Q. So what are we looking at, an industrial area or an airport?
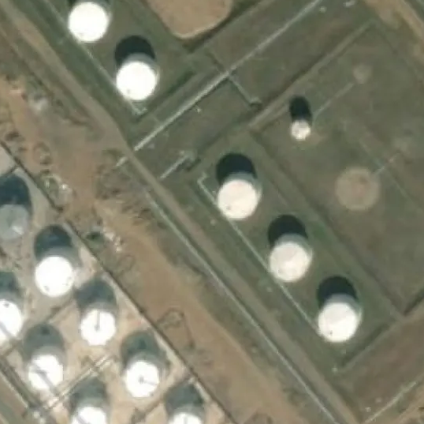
industrial area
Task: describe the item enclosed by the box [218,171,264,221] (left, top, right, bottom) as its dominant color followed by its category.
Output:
white storage tank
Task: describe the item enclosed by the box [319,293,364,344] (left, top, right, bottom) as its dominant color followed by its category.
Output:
white storage tank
